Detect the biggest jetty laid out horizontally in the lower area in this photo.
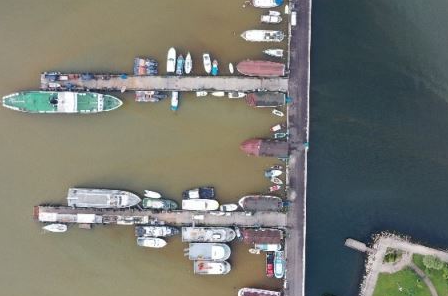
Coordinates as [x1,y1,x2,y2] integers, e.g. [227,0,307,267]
[41,205,287,227]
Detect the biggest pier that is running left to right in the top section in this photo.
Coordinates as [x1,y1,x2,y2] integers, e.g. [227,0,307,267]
[40,73,289,92]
